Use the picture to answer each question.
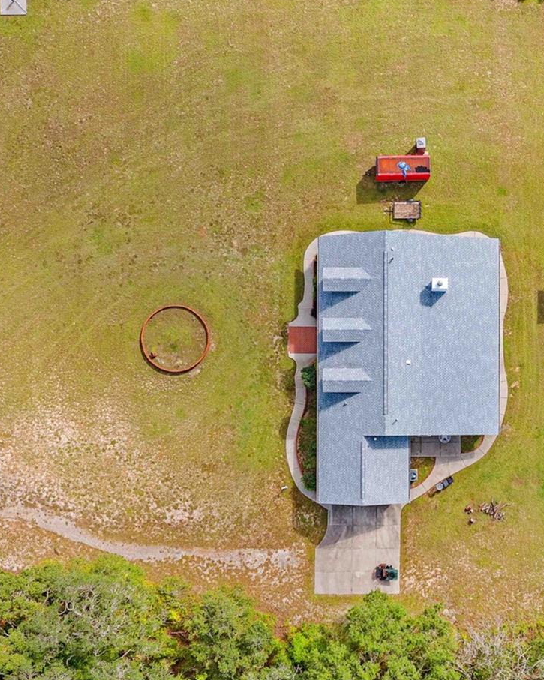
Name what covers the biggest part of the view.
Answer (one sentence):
Most of the picture is covered by grass.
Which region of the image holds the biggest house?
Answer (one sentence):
The biggest house sits in the right section of the image.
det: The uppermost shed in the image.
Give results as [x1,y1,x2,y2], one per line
[379,155,430,183]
